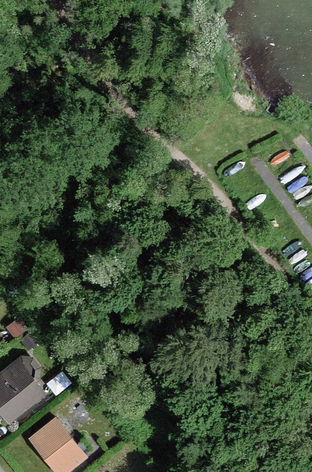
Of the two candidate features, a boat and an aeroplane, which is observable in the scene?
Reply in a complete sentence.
It is a boat that can be seen here.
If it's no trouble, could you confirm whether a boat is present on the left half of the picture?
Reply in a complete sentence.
No, no boat appears on the left half of the picture.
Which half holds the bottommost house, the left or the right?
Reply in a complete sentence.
You can find the bottommost house on the left side of the picture.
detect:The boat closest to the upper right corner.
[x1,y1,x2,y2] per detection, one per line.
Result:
[270,152,290,165]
